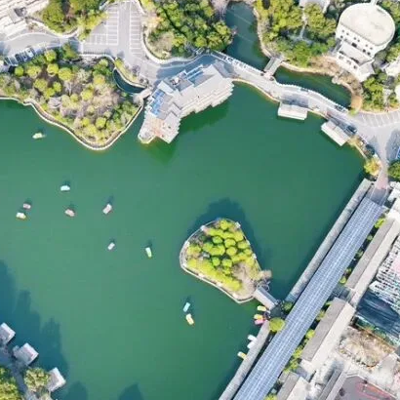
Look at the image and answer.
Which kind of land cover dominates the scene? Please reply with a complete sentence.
The bulk of the photo consists of water.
